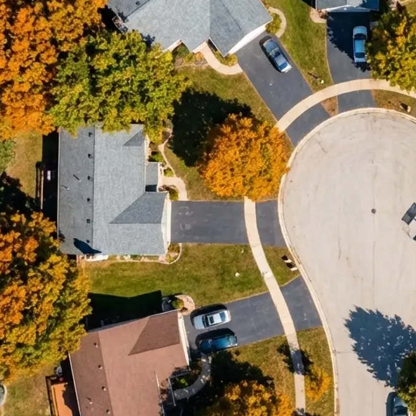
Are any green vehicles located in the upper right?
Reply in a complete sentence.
No, in the upper right there is no green vehicle.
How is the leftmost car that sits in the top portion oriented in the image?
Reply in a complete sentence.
In this picture, the leftmost car that sits in the top portion is oriented diagonally.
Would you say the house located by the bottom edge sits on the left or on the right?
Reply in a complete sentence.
It is on the left.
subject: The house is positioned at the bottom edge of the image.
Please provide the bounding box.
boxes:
[66,308,196,416]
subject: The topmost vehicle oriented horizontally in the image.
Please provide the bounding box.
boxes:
[190,304,234,329]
